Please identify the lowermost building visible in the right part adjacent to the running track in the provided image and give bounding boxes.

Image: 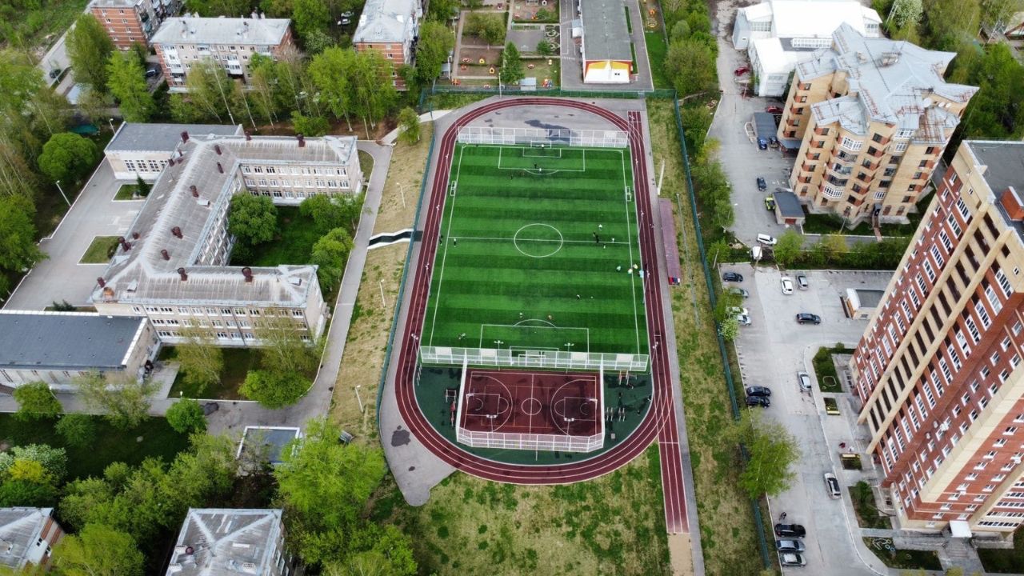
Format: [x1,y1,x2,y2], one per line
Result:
[842,136,1024,570]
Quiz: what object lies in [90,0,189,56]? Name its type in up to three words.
building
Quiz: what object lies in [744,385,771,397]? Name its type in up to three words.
vehicle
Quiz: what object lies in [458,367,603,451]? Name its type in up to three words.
basketball court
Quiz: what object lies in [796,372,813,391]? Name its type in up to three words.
car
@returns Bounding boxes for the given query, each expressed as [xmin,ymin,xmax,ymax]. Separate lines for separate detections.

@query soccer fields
[418,142,650,371]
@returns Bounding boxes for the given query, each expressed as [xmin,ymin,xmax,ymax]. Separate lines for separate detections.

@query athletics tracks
[398,99,669,483]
